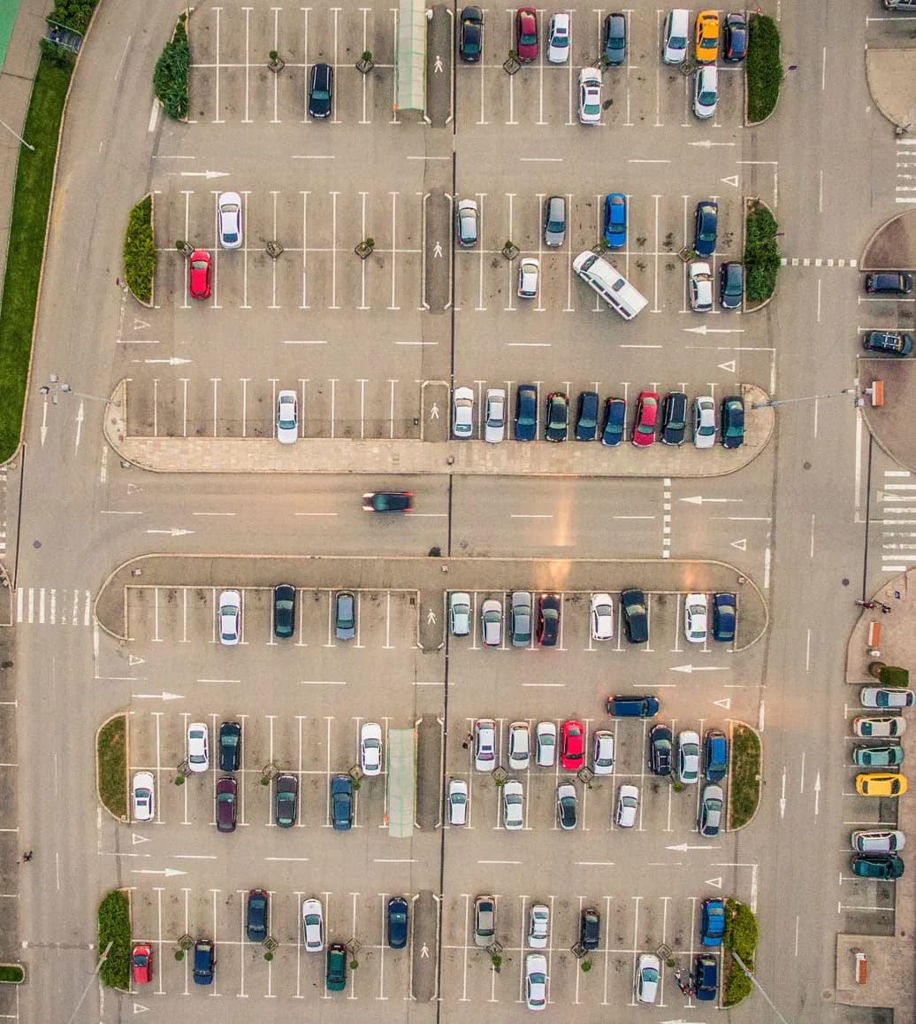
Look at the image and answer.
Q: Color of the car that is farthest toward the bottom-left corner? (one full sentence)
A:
The color of the car that is farthest toward the bottom-left corner is red.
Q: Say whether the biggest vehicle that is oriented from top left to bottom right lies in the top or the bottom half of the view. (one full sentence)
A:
The biggest vehicle that is oriented from top left to bottom right is in the top half of the image.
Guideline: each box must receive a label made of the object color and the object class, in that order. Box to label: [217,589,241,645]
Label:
white car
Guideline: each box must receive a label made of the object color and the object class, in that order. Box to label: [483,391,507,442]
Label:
white car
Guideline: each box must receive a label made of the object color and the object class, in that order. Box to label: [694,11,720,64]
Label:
orange car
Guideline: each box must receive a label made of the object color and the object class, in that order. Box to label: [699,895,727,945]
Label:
blue car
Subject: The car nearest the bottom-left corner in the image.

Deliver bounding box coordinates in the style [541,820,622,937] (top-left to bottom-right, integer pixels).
[130,939,154,984]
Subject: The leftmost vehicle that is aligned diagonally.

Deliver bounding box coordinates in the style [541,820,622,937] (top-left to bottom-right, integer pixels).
[573,255,650,325]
